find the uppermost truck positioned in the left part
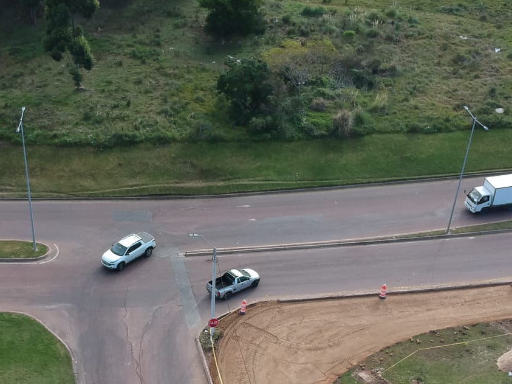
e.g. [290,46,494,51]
[100,232,158,271]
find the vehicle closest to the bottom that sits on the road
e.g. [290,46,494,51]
[207,266,261,300]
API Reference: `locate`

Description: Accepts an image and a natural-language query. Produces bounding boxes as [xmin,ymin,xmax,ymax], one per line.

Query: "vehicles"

[468,173,512,213]
[100,232,158,271]
[207,266,261,300]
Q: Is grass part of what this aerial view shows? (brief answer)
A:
Yes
